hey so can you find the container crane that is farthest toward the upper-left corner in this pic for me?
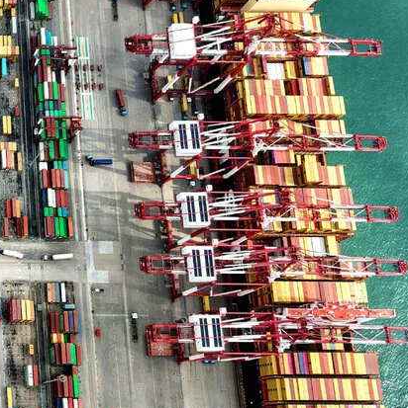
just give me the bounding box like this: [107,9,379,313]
[27,45,81,77]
